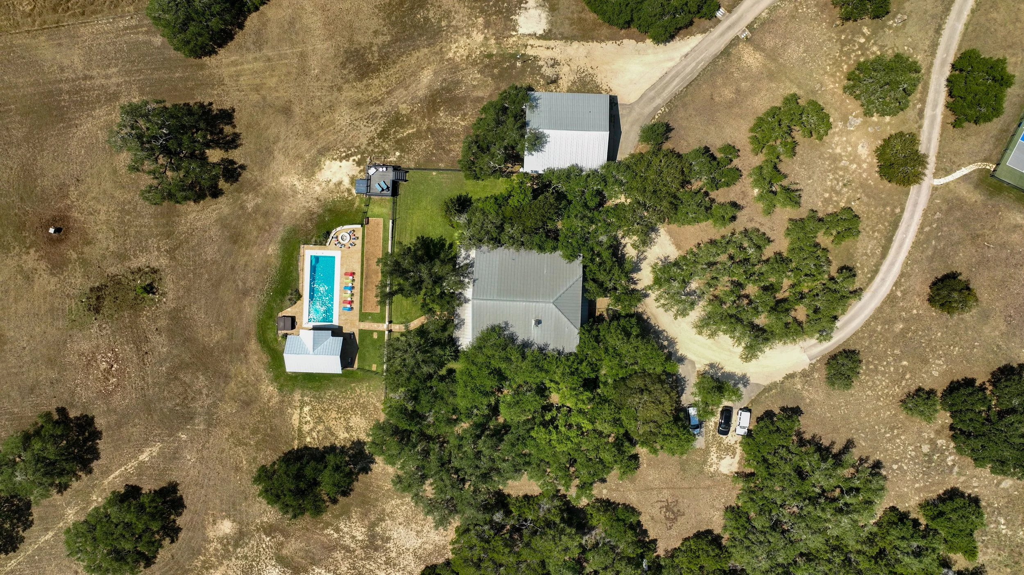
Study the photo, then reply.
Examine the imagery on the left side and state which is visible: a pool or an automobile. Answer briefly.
pool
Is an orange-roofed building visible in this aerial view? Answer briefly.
No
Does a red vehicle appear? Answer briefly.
No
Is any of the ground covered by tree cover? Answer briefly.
Yes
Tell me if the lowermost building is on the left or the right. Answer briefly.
left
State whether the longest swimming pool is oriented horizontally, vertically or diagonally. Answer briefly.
vertically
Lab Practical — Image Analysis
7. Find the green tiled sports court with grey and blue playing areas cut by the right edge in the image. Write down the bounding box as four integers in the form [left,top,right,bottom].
[995,118,1024,190]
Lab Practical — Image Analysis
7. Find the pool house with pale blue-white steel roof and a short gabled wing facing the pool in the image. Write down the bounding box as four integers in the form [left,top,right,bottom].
[283,329,345,374]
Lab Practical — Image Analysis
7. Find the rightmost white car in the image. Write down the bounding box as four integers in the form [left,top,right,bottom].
[735,406,751,435]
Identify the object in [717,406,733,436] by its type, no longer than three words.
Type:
car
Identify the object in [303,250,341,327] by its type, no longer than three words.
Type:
swimming pool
